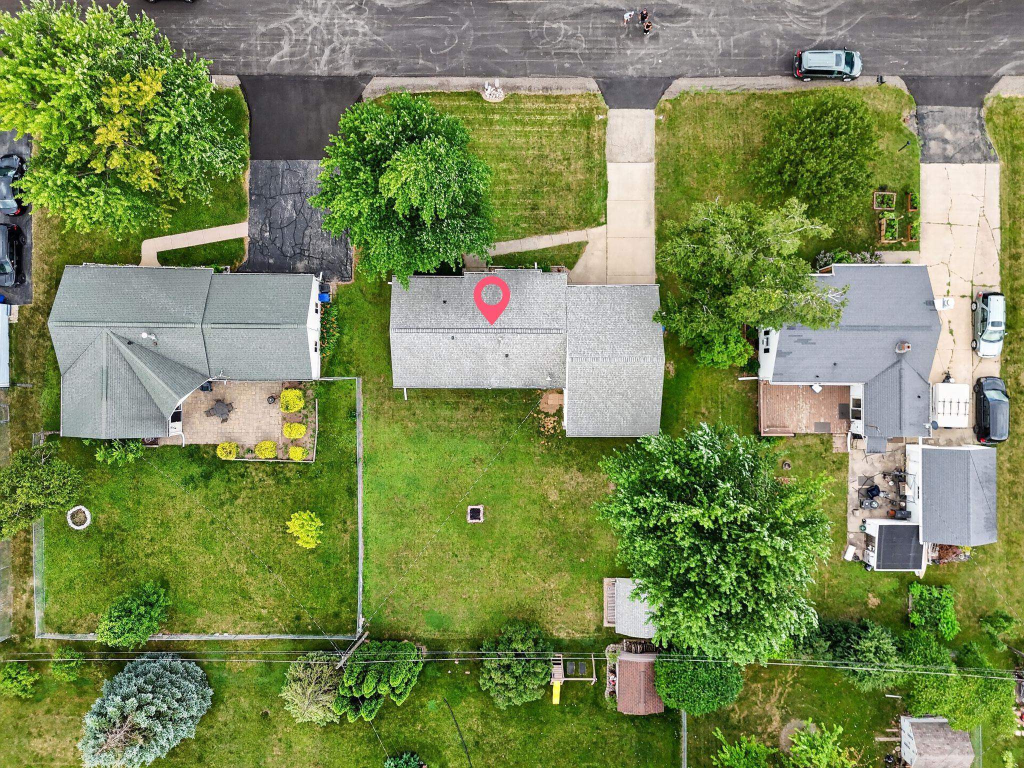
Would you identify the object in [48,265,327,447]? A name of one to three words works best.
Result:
house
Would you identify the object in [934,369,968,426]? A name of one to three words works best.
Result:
trailer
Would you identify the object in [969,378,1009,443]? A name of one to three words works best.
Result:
car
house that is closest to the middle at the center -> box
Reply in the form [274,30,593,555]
[388,262,664,438]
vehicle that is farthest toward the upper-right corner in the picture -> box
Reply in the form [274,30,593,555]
[790,48,860,86]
